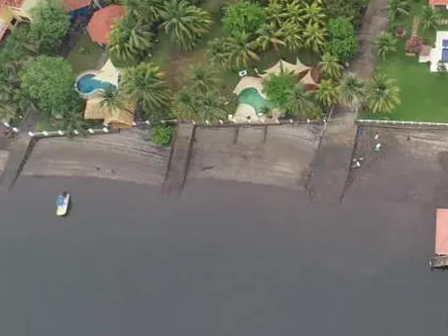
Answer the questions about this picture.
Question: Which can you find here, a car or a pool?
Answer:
pool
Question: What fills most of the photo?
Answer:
water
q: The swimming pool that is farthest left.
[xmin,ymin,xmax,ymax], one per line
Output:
[74,71,119,97]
